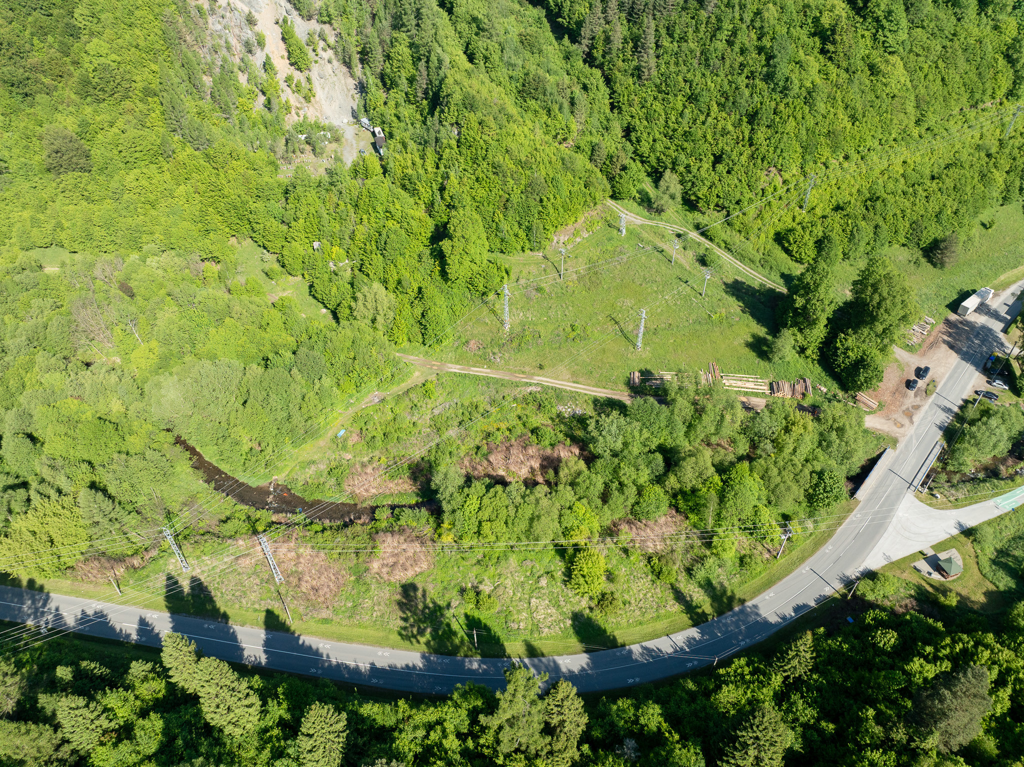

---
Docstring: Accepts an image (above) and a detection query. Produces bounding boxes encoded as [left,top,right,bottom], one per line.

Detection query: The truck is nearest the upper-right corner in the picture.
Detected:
[959,286,1000,318]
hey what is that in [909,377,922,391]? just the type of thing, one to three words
vehicle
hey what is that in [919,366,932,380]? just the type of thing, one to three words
vehicle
